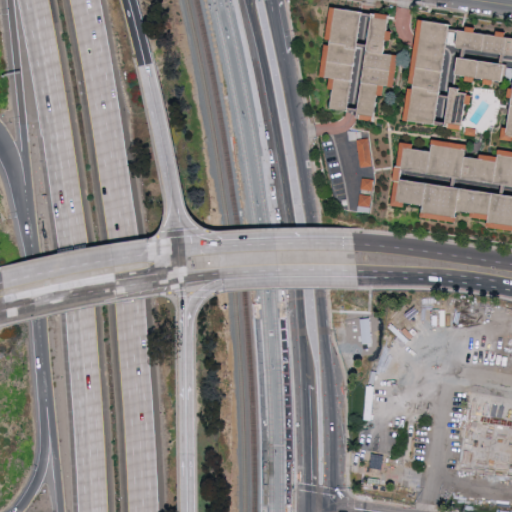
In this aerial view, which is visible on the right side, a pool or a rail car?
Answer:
pool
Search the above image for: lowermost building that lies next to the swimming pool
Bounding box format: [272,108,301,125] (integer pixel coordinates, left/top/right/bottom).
[390,140,512,232]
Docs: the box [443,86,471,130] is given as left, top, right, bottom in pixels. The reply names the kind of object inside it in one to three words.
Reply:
building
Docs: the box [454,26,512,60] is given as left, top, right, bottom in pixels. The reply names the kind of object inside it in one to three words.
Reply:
building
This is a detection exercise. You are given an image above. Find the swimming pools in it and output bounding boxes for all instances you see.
[462,88,502,132]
